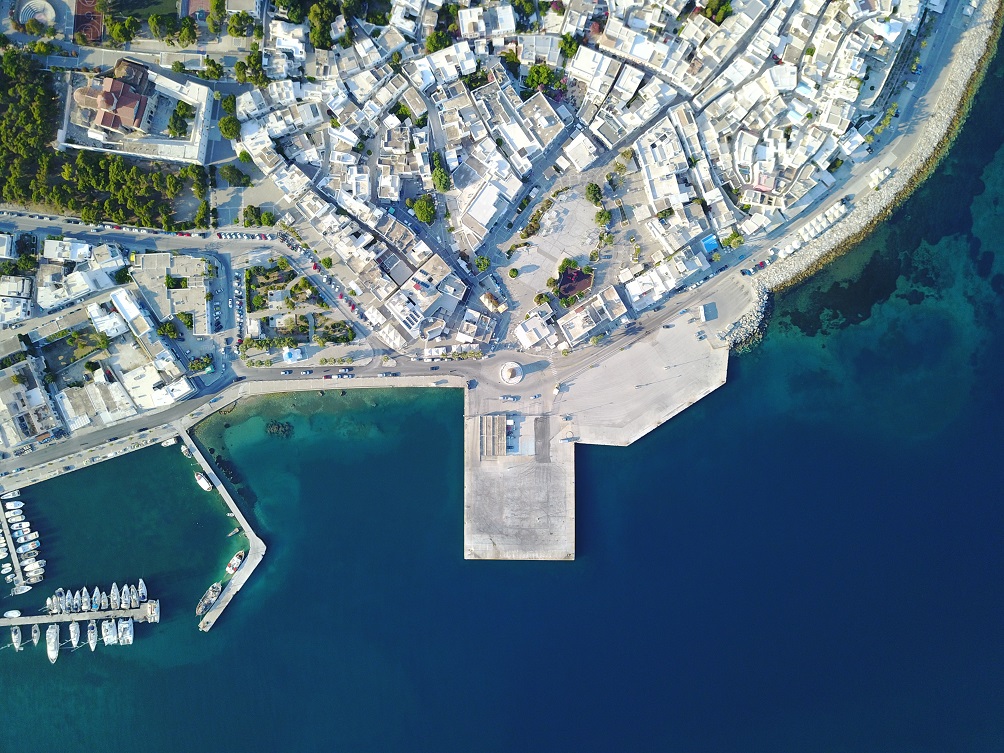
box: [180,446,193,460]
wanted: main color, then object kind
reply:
white boat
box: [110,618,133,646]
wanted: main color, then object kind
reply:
white boat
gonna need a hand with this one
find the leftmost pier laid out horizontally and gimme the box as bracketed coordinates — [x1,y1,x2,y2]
[0,601,159,626]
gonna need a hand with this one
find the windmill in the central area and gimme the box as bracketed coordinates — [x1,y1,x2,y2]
[500,361,524,384]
